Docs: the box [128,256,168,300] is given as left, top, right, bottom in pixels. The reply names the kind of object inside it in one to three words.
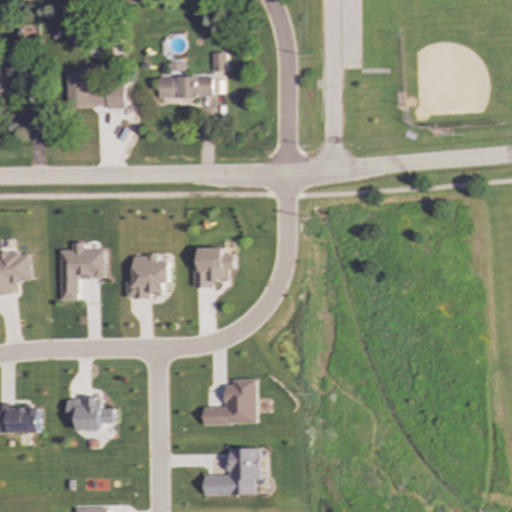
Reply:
house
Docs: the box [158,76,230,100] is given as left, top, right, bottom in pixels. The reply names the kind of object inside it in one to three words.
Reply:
house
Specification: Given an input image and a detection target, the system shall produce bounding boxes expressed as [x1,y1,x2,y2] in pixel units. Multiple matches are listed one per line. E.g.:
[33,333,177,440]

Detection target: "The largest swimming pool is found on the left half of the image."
[163,32,190,60]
